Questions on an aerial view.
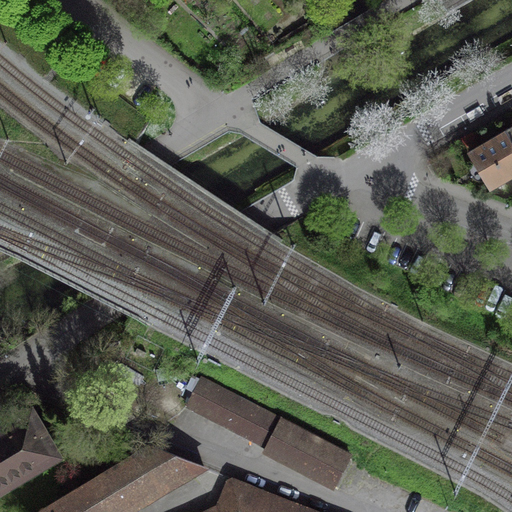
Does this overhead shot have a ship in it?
No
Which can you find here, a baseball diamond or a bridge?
bridge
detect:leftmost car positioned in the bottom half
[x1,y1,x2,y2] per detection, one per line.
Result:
[244,473,267,488]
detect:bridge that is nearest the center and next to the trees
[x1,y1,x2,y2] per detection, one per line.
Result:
[242,122,316,168]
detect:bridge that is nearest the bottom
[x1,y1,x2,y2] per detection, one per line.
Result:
[0,241,153,326]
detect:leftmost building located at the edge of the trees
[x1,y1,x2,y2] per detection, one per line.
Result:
[0,407,62,497]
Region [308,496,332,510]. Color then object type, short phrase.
black car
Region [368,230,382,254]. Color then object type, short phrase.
white car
